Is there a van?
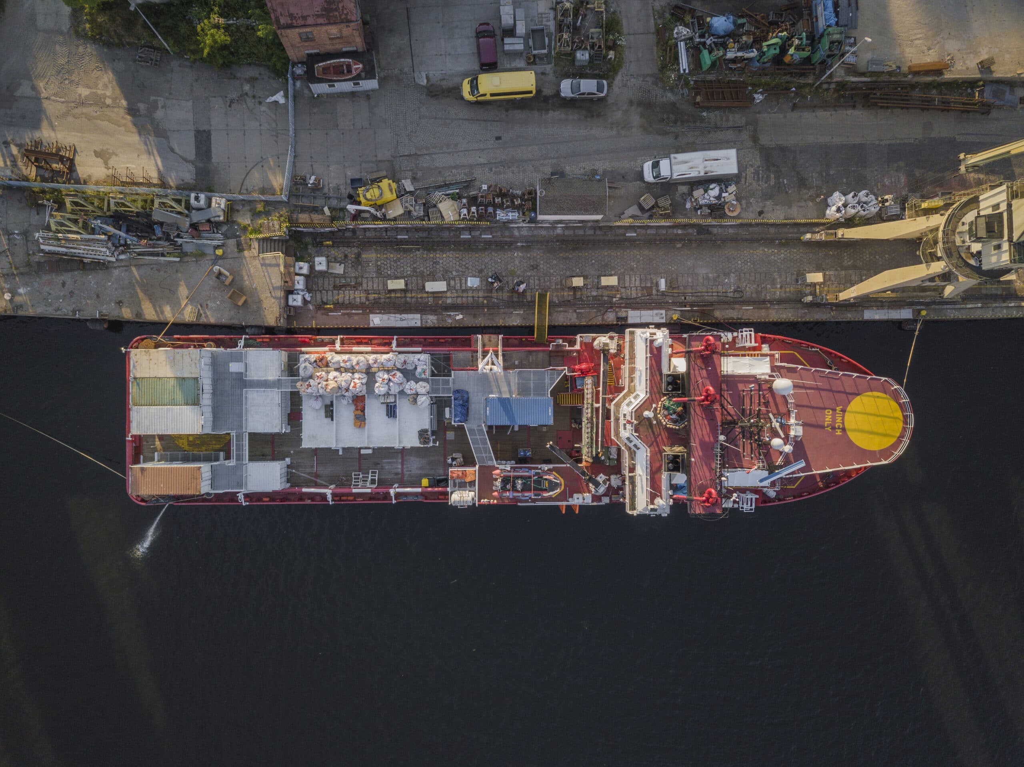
Yes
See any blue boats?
No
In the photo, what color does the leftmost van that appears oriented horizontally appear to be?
yellow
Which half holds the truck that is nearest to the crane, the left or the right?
right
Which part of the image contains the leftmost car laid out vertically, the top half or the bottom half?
top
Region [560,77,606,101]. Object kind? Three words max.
car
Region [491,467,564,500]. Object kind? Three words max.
boat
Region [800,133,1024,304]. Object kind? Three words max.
crane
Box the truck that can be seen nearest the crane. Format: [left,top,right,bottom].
[642,145,743,183]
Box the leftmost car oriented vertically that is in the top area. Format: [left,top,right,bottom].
[476,25,497,71]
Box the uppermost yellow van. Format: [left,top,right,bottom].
[463,70,535,102]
